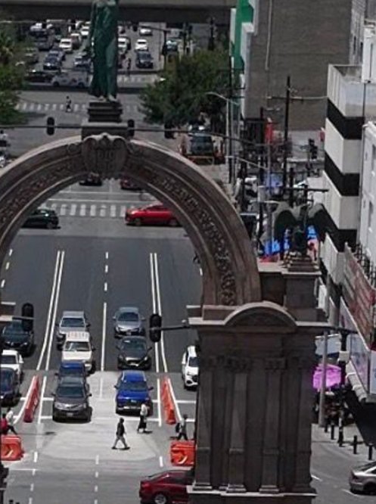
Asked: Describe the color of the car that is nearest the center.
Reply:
red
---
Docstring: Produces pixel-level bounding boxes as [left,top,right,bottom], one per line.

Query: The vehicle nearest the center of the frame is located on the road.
[125,202,182,227]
